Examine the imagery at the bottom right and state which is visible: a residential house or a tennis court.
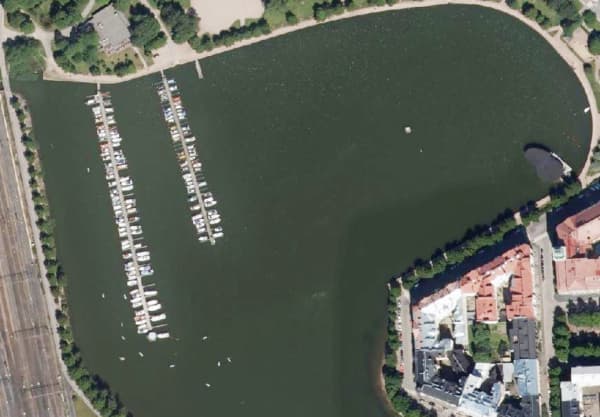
residential house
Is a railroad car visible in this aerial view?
No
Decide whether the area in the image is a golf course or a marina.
marina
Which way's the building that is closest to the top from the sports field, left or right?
to its left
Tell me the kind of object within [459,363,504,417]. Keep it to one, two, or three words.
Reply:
house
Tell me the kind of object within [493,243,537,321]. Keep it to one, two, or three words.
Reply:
house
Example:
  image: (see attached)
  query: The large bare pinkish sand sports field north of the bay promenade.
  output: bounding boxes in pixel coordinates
[190,0,262,33]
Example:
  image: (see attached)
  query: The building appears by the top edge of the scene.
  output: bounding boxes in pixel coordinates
[93,5,132,50]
